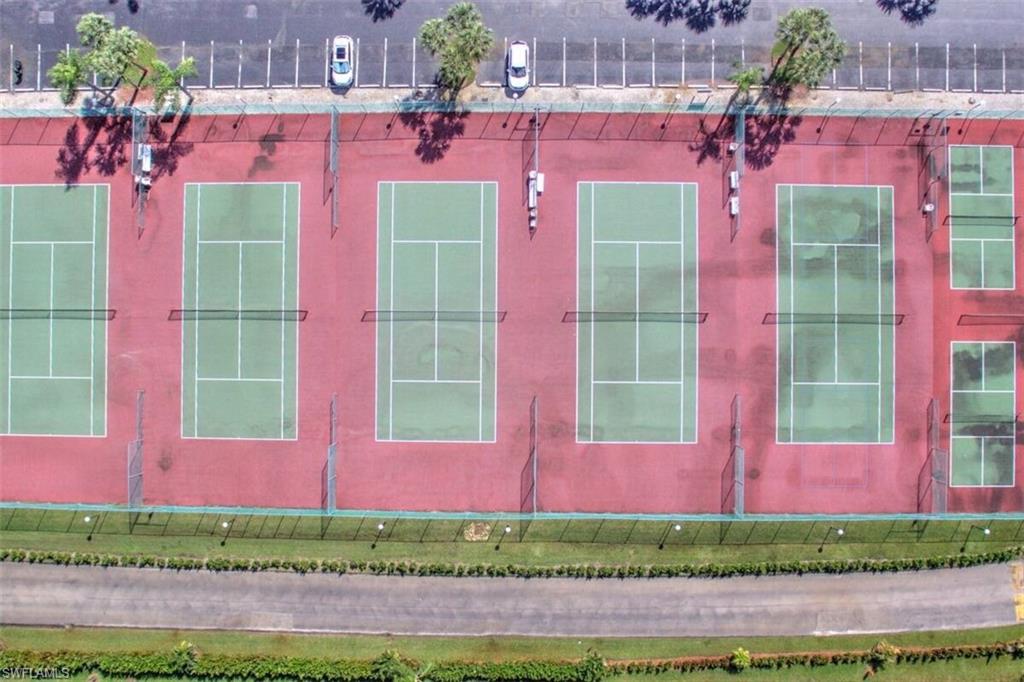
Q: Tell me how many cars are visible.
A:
2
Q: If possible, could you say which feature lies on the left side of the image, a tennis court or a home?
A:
tennis court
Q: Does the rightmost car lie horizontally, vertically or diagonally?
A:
vertically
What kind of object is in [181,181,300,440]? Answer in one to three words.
tennis court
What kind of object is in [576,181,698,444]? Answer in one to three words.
tennis court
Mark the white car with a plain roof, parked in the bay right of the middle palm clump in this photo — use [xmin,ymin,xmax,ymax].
[506,41,531,91]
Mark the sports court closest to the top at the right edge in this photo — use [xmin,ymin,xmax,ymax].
[949,145,1016,290]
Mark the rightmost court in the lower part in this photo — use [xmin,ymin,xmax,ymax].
[951,341,1016,487]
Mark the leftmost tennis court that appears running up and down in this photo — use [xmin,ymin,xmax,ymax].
[0,184,110,437]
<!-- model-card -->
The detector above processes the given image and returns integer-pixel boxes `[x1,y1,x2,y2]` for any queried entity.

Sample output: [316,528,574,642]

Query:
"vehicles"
[8,60,20,83]
[506,41,531,91]
[329,37,354,88]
